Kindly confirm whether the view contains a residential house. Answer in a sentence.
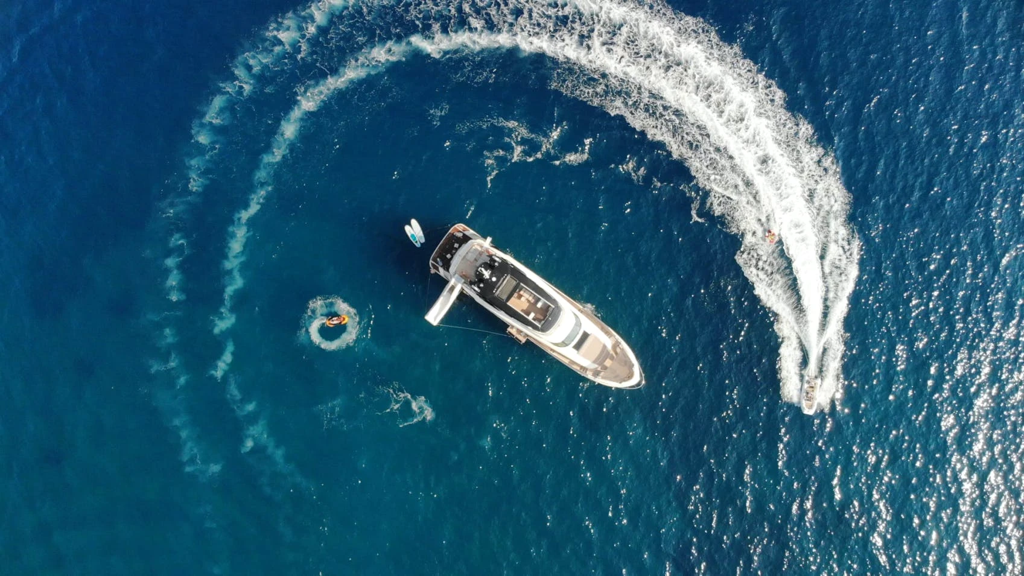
No, there's no residential house here.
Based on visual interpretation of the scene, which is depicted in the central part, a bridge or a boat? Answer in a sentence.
What appears in the central part is a boat.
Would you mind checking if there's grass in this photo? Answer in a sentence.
No, there is no grass in the image.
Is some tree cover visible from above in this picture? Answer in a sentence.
No, tree cover can't be seen anywhere here.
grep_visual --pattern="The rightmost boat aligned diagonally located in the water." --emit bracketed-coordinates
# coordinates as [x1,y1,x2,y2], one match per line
[431,223,645,389]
